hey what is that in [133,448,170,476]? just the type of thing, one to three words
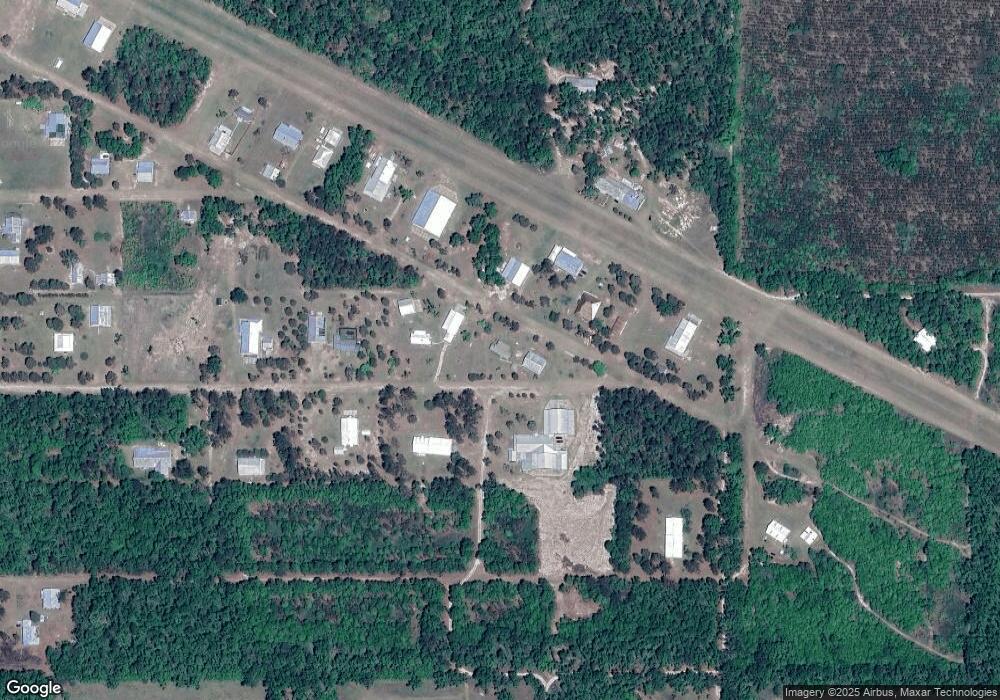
house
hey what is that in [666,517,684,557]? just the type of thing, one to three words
hangar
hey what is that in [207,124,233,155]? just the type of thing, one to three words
house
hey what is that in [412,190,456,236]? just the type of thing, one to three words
hangar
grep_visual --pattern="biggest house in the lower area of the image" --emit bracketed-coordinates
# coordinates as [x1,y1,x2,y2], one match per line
[509,436,567,470]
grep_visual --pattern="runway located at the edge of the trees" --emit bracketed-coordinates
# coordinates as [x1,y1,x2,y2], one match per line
[122,0,1000,448]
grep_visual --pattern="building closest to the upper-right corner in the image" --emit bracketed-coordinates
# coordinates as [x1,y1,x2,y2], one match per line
[913,328,938,351]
